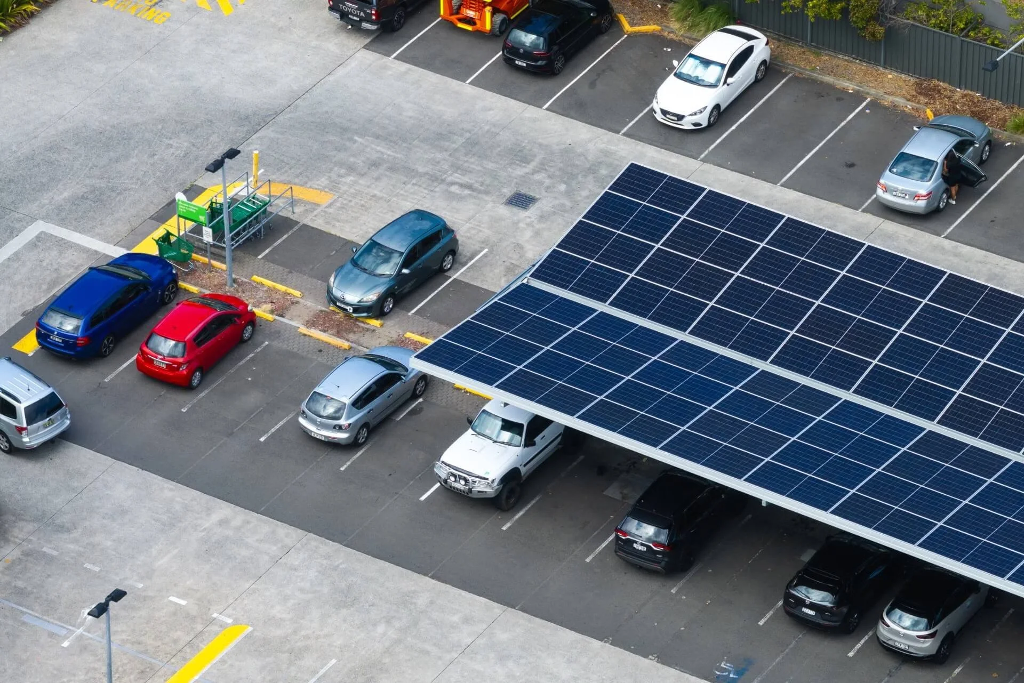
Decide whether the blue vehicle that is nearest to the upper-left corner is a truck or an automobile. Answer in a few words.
automobile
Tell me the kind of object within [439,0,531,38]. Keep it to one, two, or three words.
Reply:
work vehicle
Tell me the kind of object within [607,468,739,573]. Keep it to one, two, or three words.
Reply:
car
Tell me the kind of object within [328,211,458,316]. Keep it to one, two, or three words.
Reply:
car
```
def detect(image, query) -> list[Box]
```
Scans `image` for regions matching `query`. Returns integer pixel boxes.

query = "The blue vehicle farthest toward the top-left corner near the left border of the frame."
[33,253,180,363]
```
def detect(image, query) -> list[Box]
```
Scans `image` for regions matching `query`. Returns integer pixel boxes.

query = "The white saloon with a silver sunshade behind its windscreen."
[654,25,773,129]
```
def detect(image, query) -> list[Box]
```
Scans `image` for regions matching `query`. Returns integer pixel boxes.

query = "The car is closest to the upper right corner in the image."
[876,115,994,218]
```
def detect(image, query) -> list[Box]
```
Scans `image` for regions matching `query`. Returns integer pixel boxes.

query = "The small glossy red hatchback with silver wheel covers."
[137,294,254,388]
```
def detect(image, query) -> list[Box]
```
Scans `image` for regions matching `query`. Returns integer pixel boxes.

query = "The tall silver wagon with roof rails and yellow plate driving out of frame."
[0,356,71,452]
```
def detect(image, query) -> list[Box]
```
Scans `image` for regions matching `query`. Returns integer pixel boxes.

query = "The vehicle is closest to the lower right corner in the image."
[876,564,996,664]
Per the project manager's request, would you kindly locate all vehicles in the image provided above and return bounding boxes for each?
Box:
[500,0,613,74]
[323,0,416,32]
[137,294,254,388]
[33,253,180,363]
[432,402,578,508]
[607,468,739,573]
[0,356,71,452]
[439,0,531,38]
[654,25,773,129]
[328,211,458,316]
[784,532,908,635]
[876,115,994,218]
[876,564,996,664]
[297,347,427,446]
